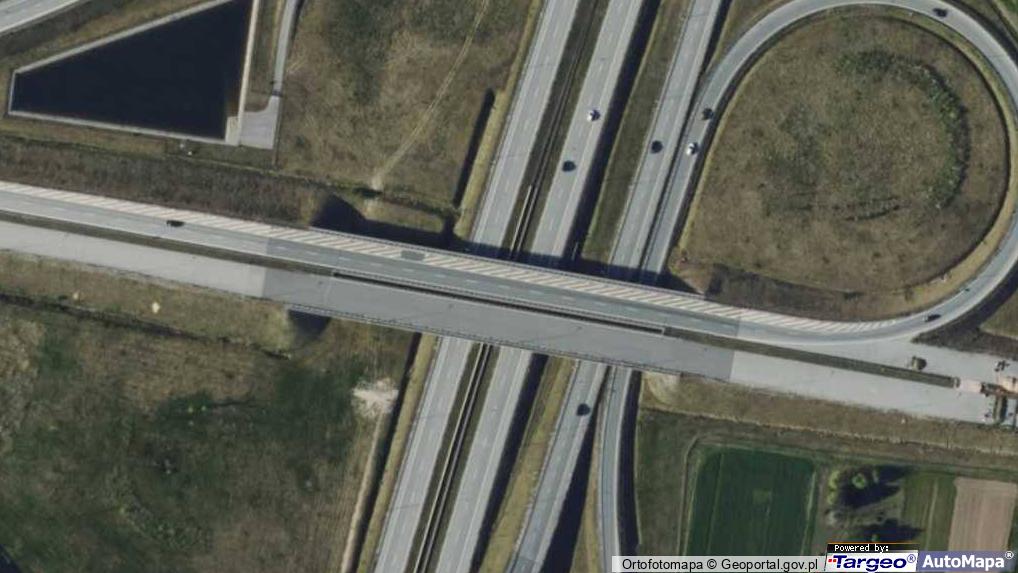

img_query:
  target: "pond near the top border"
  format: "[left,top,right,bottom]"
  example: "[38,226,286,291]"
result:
[9,0,258,147]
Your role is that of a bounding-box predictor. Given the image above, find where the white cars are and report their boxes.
[687,144,694,156]
[587,111,594,122]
